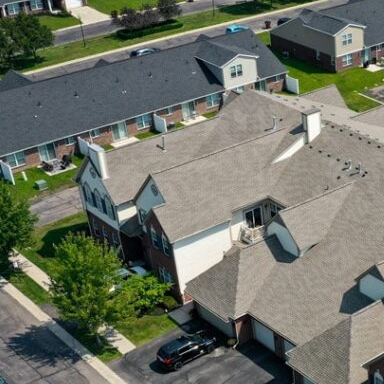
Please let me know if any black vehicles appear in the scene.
Yes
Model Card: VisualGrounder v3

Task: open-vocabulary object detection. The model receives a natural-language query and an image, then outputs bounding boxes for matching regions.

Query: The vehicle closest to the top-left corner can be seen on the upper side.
[128,42,160,55]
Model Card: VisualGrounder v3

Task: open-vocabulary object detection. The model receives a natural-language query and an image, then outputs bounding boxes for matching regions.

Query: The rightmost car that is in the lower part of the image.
[154,334,216,370]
